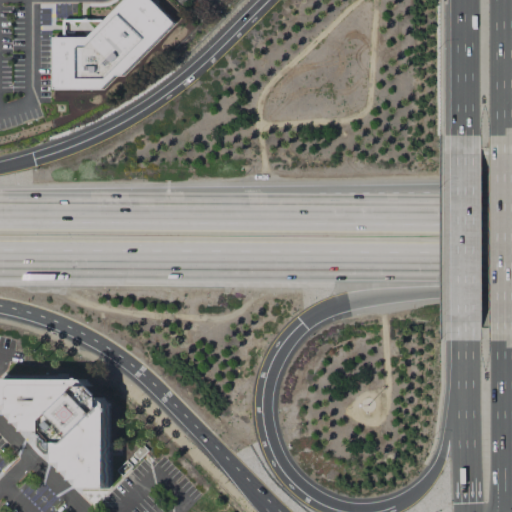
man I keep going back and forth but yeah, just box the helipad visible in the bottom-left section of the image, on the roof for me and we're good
[43,390,86,436]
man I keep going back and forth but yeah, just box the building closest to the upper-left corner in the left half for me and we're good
[52,0,177,91]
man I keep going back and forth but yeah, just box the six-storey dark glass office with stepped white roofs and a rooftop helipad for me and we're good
[0,380,110,498]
